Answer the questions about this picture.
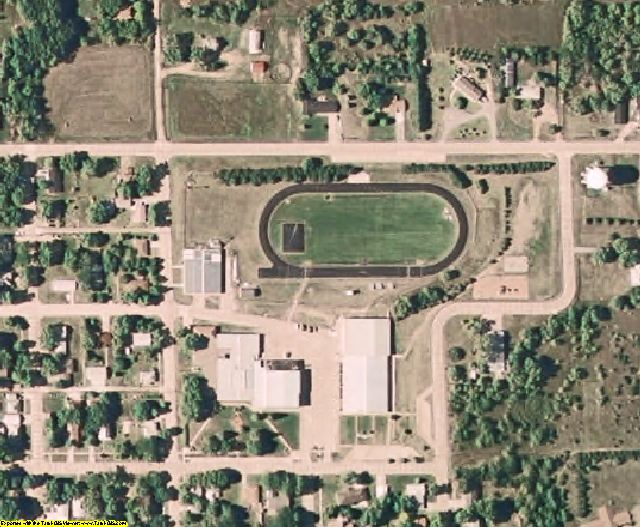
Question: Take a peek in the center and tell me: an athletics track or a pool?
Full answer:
Looking in the center, you will find an athletics track.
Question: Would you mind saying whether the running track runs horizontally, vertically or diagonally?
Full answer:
In this picture, the running track lies horizontally.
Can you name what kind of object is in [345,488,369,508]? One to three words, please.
house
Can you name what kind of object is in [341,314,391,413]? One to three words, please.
building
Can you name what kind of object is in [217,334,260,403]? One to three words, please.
building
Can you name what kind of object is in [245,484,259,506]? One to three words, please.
house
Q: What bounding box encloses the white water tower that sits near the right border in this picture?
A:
[579,164,608,193]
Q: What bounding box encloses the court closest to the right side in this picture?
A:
[503,255,528,273]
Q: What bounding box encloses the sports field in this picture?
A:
[269,193,458,268]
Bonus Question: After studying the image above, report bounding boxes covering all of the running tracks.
[258,182,469,278]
